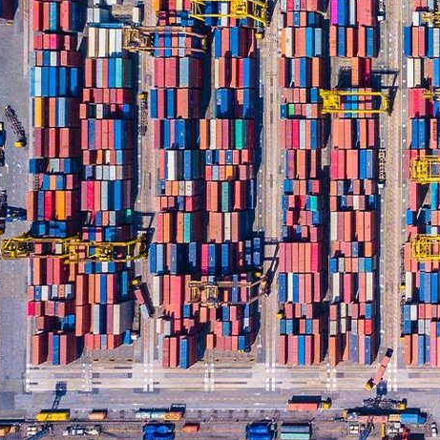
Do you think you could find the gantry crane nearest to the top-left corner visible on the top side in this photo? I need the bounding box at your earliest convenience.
[125,25,208,58]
